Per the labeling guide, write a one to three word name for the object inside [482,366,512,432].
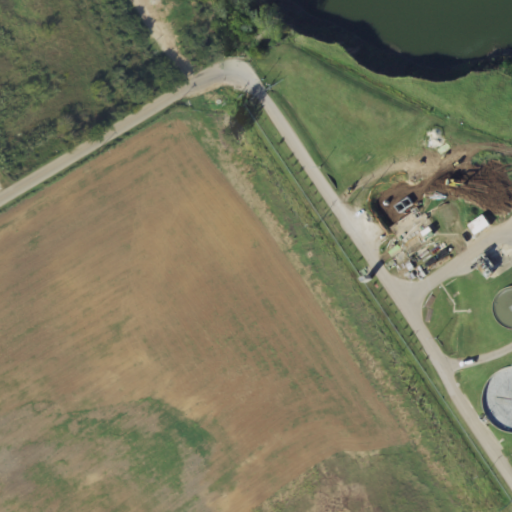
storage tank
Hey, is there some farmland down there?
Yes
